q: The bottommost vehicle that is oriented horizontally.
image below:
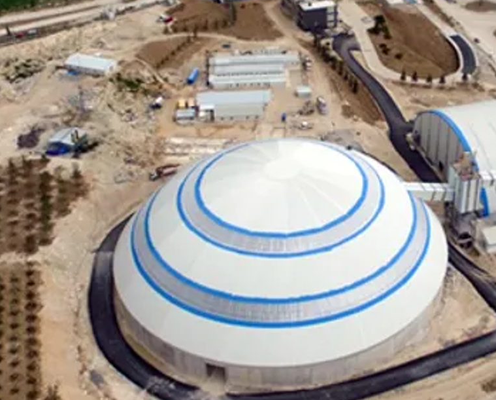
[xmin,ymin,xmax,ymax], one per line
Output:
[152,164,180,178]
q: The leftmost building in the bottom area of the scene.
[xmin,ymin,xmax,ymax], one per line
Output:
[110,134,448,387]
